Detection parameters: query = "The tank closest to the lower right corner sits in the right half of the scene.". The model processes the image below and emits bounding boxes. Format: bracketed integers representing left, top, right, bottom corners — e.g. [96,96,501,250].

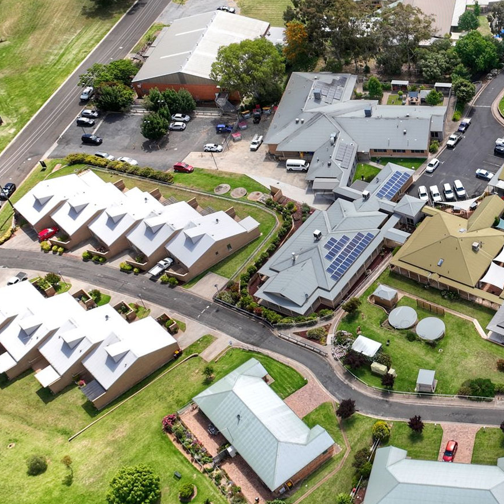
[416,317,445,343]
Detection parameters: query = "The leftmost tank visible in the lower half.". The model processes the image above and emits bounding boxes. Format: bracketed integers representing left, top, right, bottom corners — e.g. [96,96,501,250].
[388,307,417,333]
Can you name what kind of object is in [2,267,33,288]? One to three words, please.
vehicle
